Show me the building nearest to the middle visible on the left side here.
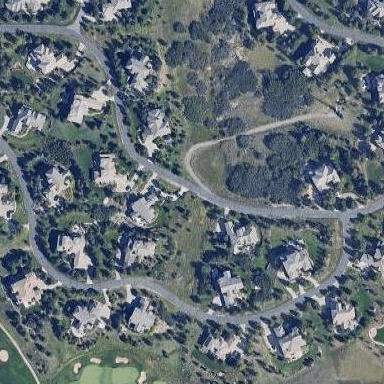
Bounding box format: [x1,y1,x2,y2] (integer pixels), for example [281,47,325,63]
[127,189,162,223]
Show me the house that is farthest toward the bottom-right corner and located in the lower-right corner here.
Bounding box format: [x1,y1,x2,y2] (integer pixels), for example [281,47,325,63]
[331,302,360,332]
